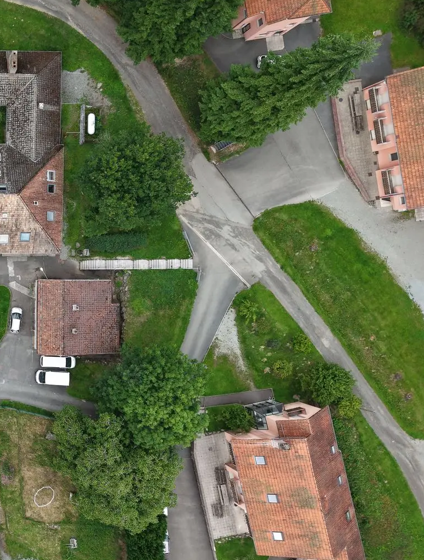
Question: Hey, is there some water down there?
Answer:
No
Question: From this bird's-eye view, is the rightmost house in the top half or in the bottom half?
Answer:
top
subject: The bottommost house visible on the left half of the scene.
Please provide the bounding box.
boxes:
[34,279,122,355]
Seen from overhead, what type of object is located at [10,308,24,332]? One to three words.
vehicle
